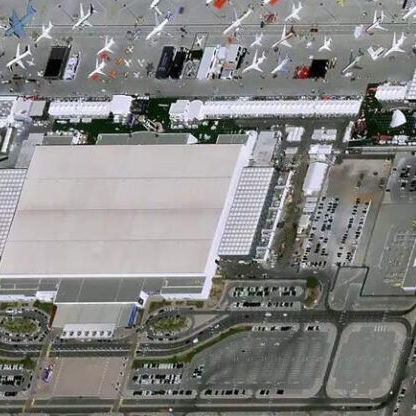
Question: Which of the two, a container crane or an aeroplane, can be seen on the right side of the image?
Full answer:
The one visible on the right side of the image is an aeroplane.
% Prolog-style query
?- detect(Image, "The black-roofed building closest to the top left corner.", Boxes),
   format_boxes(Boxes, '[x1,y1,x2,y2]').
[45,47,74,83]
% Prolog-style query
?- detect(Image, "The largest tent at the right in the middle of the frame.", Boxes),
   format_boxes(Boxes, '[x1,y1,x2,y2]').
[303,162,332,195]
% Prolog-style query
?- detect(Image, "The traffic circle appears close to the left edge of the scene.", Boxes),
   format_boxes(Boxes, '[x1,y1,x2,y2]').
[0,309,45,342]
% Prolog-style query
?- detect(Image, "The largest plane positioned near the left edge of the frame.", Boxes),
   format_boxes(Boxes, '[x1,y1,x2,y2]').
[6,2,33,35]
